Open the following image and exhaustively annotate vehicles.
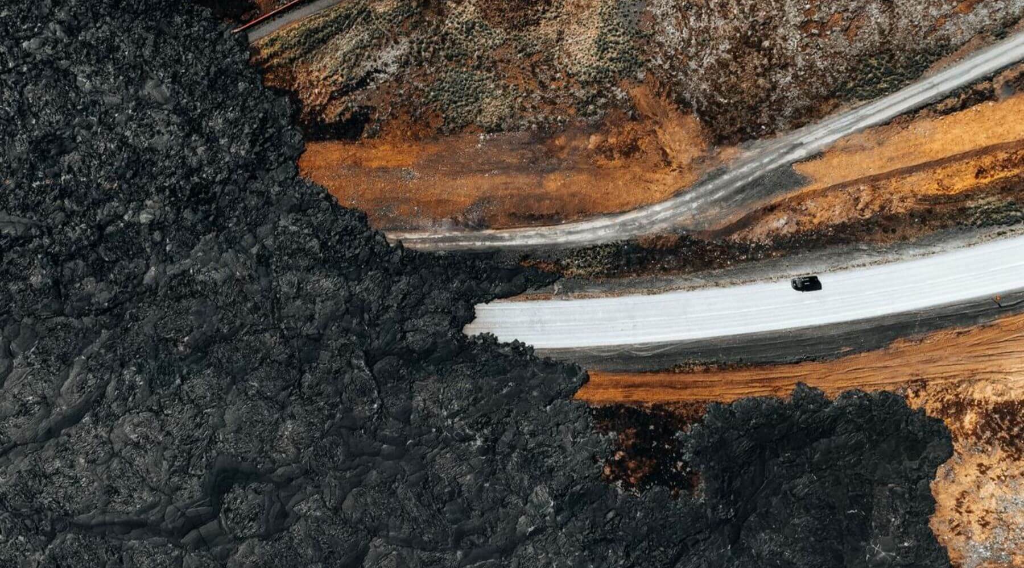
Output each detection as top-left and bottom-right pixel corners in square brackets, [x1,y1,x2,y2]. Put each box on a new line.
[793,276,822,290]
